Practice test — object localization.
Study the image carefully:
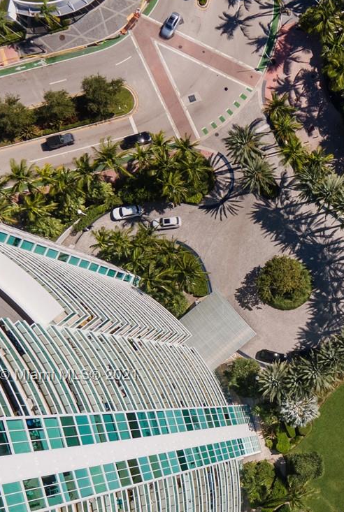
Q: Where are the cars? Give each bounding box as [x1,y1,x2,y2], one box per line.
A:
[162,9,182,41]
[254,348,286,362]
[151,215,181,228]
[121,132,154,150]
[111,204,143,221]
[44,132,76,150]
